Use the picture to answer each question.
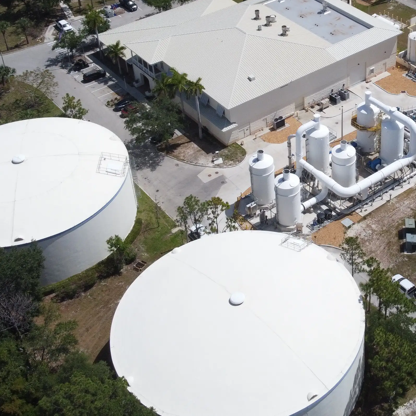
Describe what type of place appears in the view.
industrial area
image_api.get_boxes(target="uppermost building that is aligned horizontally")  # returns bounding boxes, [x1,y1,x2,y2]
[99,0,406,147]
